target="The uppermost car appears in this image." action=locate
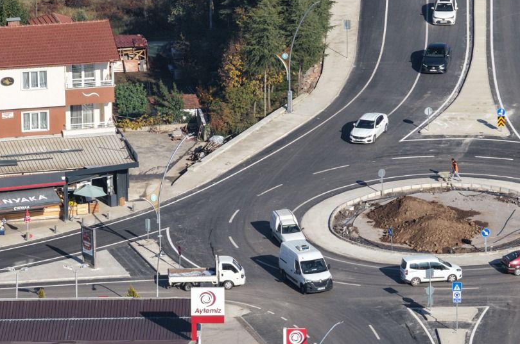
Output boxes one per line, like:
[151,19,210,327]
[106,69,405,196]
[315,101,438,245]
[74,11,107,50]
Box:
[433,0,460,22]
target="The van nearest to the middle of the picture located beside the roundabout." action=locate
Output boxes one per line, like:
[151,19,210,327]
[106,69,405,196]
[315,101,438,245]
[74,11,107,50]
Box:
[275,204,312,241]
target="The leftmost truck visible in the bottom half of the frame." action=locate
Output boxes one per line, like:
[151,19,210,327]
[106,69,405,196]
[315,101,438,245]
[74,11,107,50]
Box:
[167,254,244,289]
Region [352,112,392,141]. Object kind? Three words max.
car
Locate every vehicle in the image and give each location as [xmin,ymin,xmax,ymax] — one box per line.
[167,254,244,289]
[276,236,332,293]
[275,204,312,241]
[397,251,463,284]
[422,42,453,71]
[499,249,520,275]
[352,112,392,141]
[433,0,460,22]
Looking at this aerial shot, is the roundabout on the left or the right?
right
